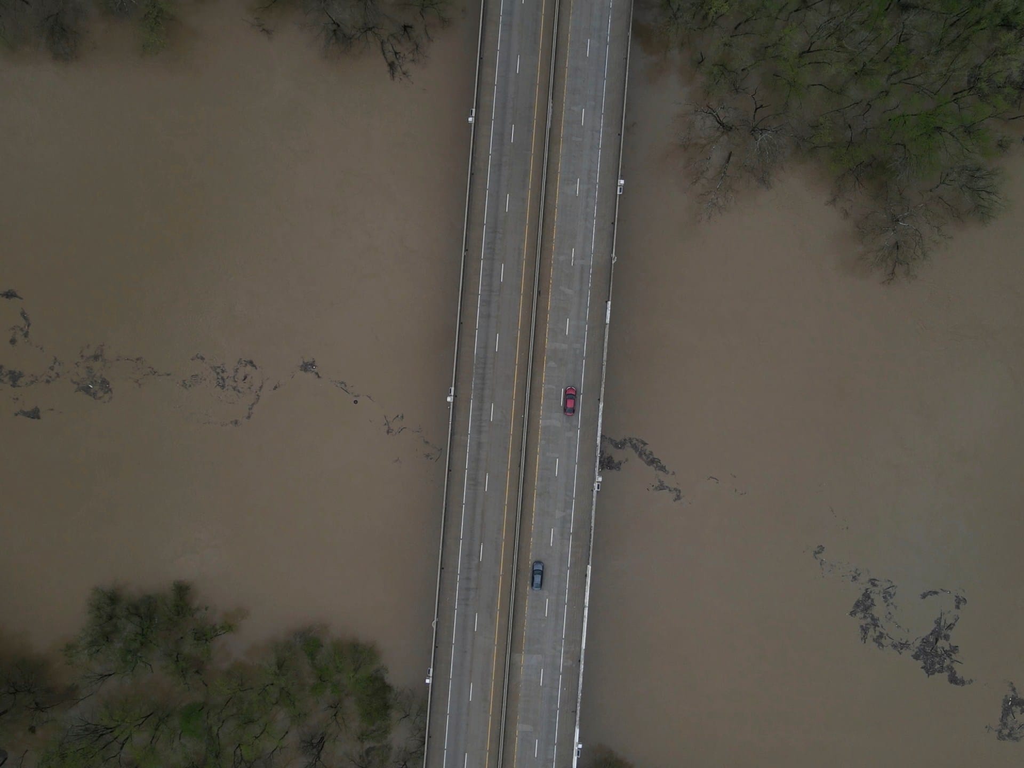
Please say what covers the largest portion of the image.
water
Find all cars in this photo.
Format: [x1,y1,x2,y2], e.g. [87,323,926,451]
[564,387,577,415]
[532,562,544,591]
